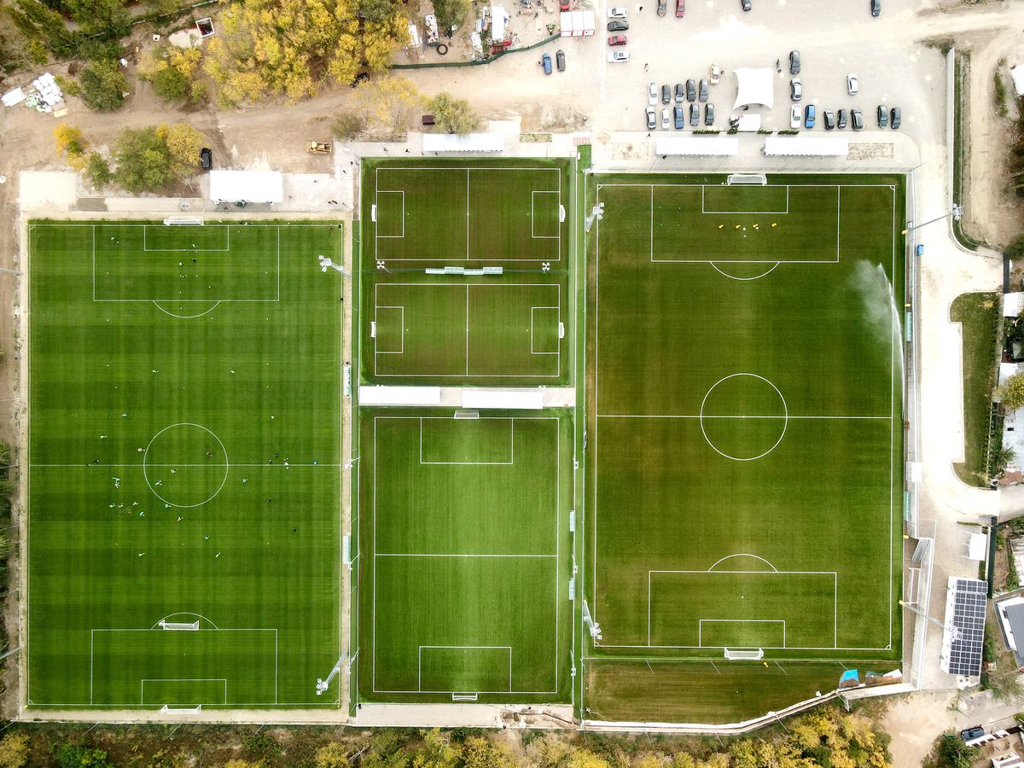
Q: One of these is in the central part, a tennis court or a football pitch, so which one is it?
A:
football pitch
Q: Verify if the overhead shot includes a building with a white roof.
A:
Yes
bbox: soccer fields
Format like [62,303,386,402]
[360,273,570,387]
[585,174,906,663]
[359,408,575,705]
[360,159,570,273]
[26,219,344,711]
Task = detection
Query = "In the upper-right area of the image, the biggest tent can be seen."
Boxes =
[735,115,761,135]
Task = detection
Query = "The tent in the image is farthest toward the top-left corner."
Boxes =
[210,171,288,206]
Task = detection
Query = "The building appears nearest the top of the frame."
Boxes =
[561,9,596,38]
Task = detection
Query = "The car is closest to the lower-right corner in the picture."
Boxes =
[962,727,988,743]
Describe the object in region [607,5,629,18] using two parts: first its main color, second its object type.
white vehicle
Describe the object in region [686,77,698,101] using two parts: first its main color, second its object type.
gray vehicle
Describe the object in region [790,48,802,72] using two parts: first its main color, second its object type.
gray vehicle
